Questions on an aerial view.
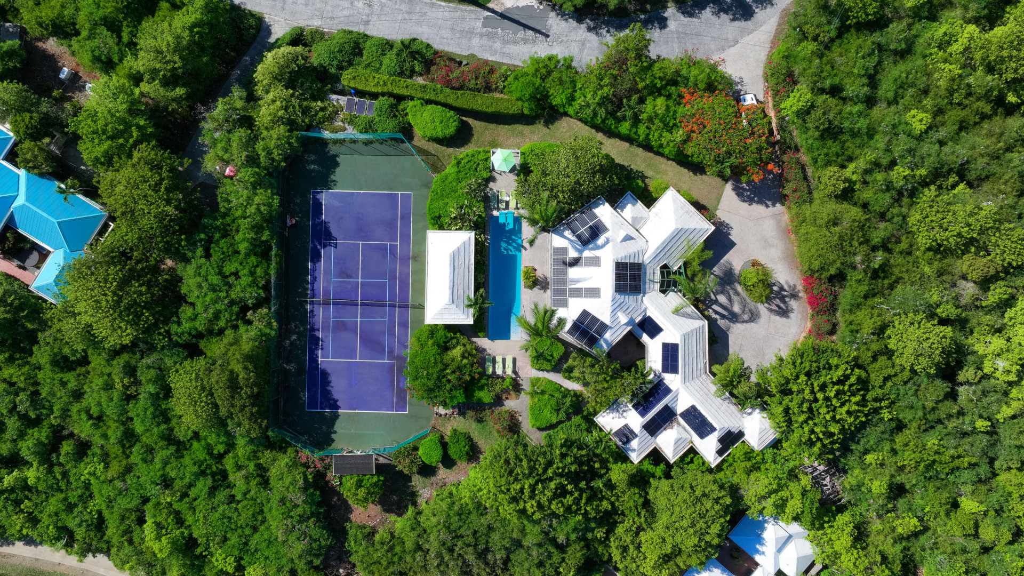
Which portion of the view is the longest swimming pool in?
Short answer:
center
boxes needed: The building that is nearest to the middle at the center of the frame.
[424,230,475,324]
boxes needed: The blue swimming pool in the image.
[486,213,524,342]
